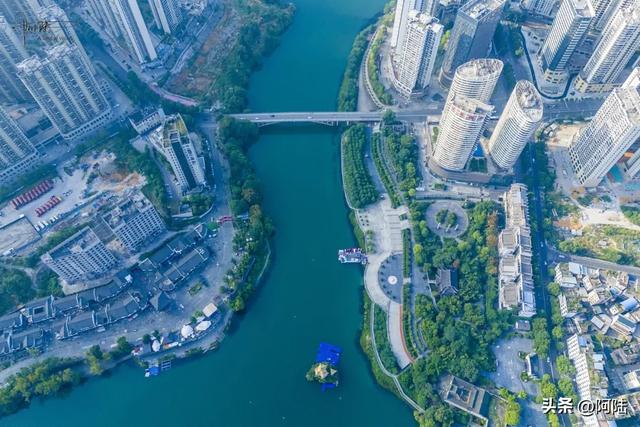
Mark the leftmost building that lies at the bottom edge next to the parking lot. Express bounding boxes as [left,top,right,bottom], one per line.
[441,374,487,418]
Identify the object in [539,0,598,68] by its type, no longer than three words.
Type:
building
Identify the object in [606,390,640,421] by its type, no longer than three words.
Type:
house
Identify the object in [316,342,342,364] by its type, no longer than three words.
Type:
pier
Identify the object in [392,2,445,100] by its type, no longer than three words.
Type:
building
